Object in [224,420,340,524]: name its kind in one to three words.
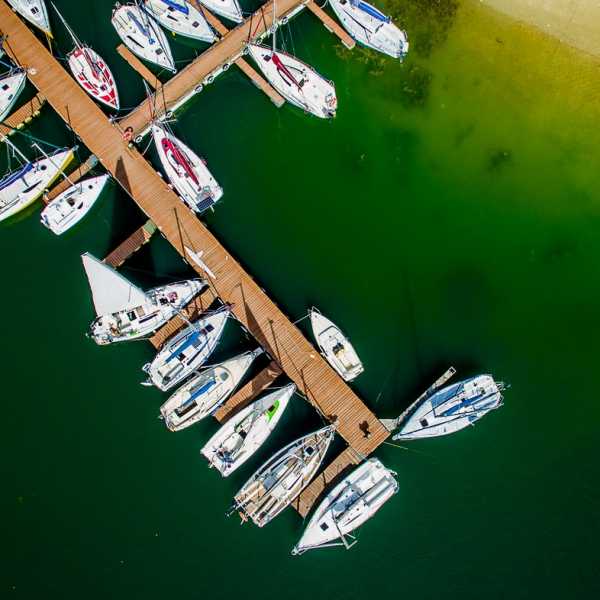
boat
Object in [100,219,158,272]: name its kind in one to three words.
pier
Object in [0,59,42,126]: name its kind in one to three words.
boat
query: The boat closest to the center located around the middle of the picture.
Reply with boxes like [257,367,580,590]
[285,305,366,386]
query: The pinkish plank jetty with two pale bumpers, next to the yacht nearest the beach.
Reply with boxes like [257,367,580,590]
[301,0,355,50]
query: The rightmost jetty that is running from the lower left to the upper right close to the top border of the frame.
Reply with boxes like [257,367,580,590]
[117,0,308,144]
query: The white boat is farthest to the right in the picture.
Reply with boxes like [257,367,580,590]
[388,378,509,441]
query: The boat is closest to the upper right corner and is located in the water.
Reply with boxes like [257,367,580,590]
[322,0,414,68]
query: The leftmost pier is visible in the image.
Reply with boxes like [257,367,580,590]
[0,92,51,142]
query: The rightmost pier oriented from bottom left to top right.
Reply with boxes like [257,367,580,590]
[292,449,366,520]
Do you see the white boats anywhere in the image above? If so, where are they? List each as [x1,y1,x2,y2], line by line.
[84,253,210,351]
[154,345,278,432]
[141,298,240,393]
[236,0,340,127]
[0,105,91,224]
[203,0,258,32]
[141,80,223,214]
[289,455,401,560]
[322,0,414,68]
[56,7,130,124]
[112,0,202,84]
[202,367,321,476]
[0,59,42,126]
[39,147,117,236]
[285,305,366,386]
[158,0,227,50]
[388,378,509,441]
[11,0,57,59]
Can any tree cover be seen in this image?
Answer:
No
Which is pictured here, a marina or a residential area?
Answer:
marina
